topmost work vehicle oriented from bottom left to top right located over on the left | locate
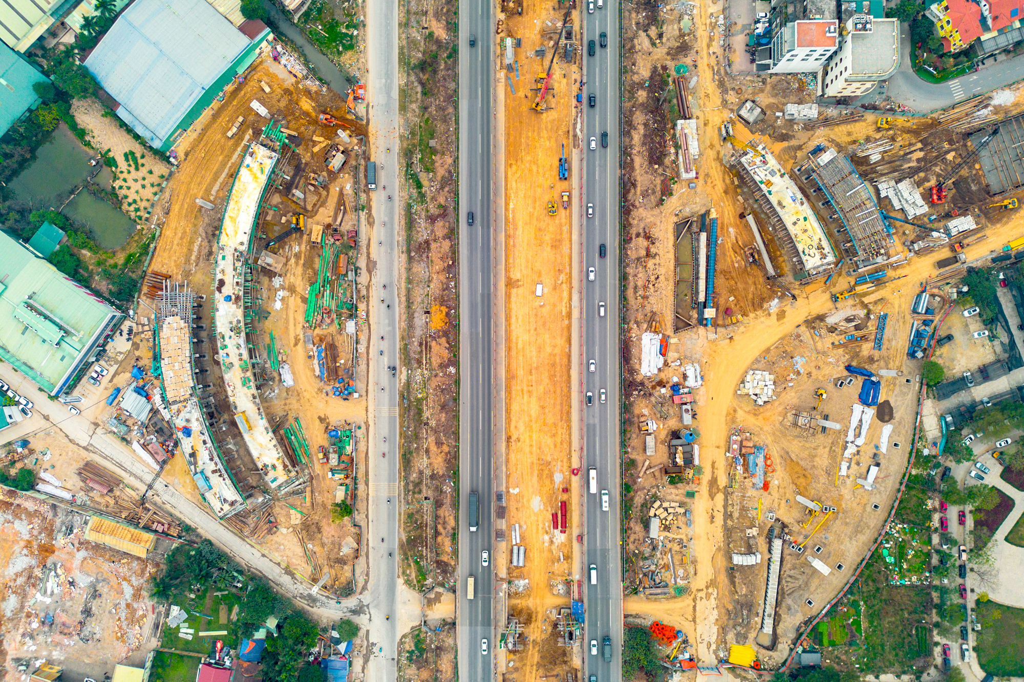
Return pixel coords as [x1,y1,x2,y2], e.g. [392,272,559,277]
[346,83,370,118]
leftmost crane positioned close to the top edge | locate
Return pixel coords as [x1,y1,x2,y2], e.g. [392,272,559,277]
[530,1,572,114]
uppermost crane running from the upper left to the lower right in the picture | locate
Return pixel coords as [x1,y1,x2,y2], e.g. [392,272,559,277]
[715,122,766,167]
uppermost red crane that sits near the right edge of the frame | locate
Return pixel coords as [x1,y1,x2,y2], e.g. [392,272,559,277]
[924,126,1001,206]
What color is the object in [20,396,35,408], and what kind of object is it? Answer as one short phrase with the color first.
white vehicle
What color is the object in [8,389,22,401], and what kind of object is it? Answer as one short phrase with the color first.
white vehicle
